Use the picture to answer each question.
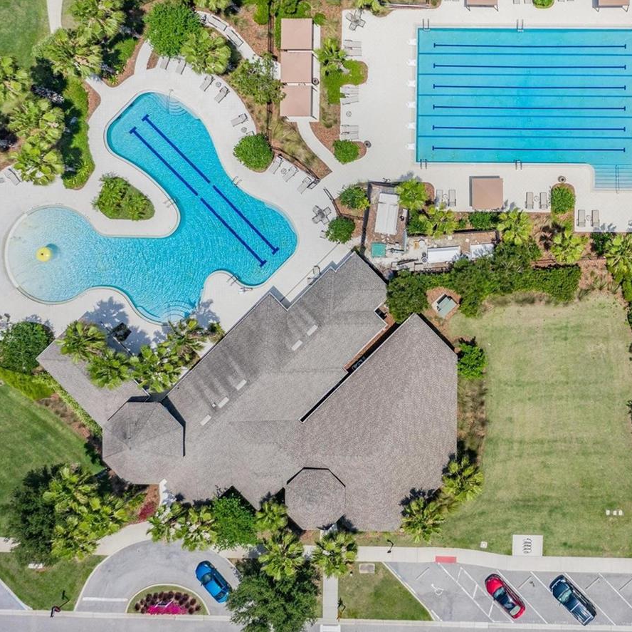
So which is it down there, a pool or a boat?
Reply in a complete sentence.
The image shows a pool.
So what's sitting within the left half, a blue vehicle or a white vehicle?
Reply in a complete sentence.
There is a blue vehicle within the left half.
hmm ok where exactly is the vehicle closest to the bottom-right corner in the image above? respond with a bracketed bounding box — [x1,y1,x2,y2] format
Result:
[545,570,600,631]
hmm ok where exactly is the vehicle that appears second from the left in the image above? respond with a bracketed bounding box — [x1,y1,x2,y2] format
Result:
[482,569,529,622]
